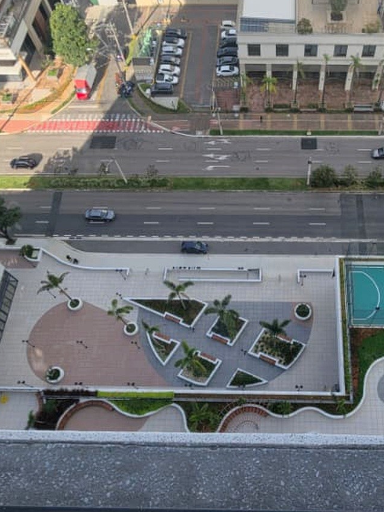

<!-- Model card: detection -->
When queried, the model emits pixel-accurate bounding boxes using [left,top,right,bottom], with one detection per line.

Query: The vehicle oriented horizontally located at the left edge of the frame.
[9,157,37,170]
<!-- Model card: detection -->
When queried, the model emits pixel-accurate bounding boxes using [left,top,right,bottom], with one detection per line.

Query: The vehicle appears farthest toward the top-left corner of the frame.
[73,61,98,100]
